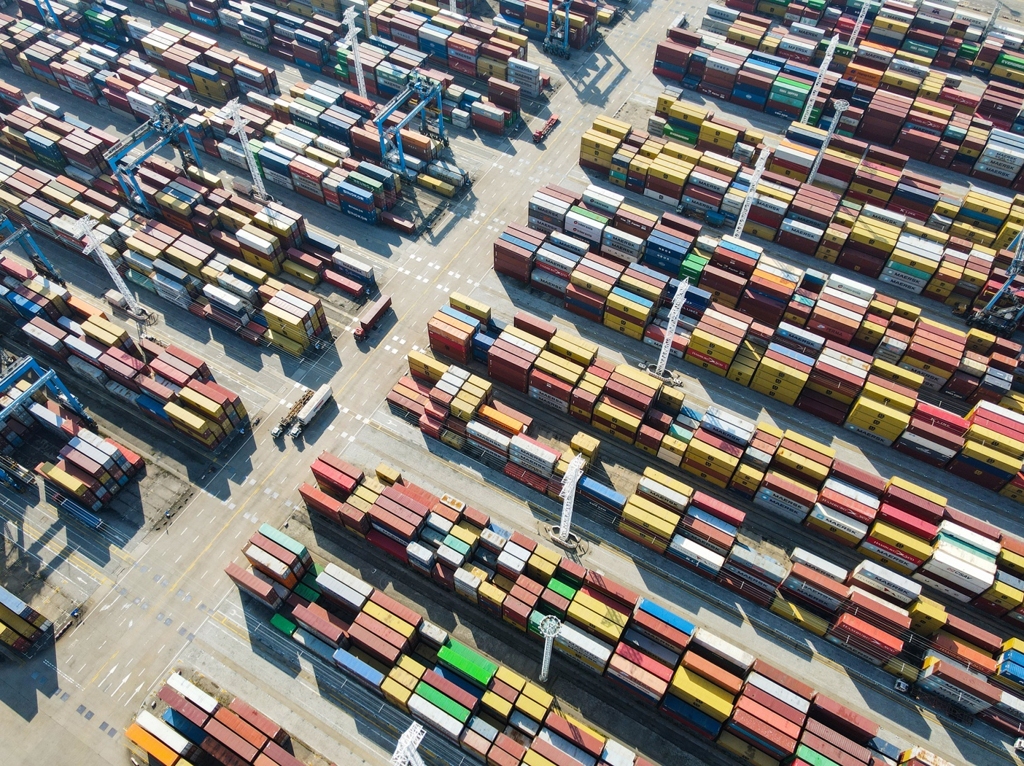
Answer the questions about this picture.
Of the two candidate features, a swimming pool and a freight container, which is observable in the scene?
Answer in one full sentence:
The one in the frame is a freight container.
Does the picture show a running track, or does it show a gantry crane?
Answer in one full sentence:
Looking from above, you can make out a gantry crane.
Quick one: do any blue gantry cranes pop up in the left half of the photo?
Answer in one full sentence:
Yes, a blue gantry crane appears in the left half of the photo.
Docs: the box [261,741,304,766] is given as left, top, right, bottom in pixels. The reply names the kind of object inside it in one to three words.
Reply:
shipping container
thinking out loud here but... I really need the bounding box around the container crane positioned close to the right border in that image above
[967,228,1024,345]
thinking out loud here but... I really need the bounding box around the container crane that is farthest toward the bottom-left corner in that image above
[0,347,98,491]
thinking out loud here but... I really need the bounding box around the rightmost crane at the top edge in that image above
[538,0,573,57]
